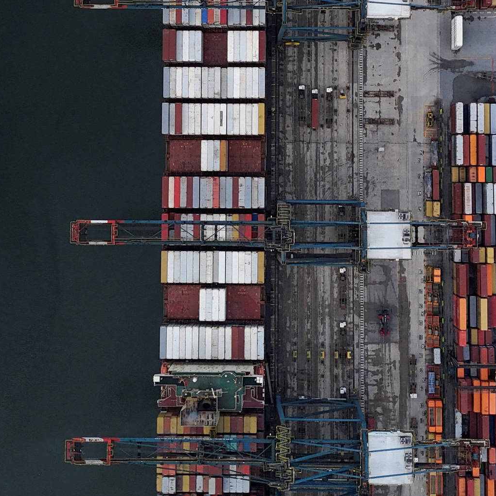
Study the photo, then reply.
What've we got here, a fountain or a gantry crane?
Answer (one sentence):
Visible in the photo is a gantry crane.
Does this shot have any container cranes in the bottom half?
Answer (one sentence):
Yes, a container crane is visible in the bottom half.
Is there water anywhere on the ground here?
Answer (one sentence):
Yes, there is water in the image.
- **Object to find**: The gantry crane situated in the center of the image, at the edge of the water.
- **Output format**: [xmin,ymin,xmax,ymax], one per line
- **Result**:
[66,185,485,278]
